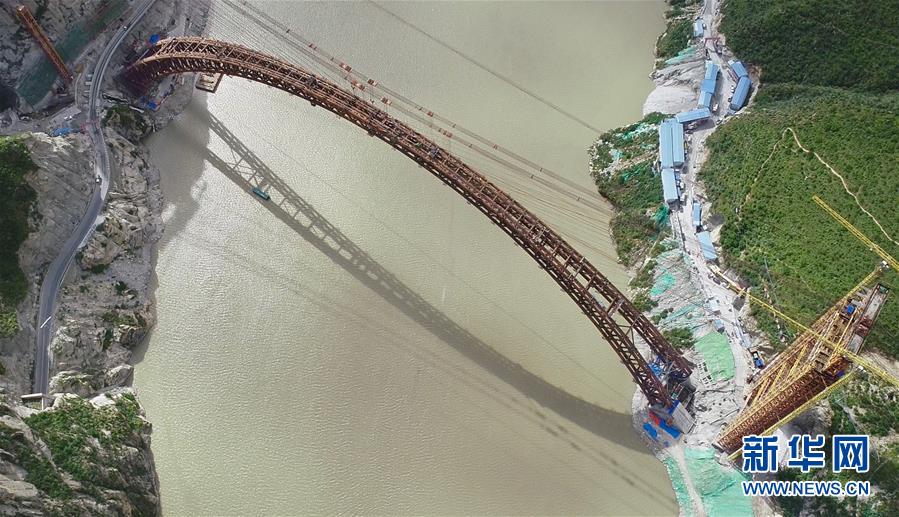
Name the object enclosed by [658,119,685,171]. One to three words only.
shed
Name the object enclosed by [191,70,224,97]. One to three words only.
ship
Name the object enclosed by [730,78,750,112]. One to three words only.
shed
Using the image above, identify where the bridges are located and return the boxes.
[117,37,705,420]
